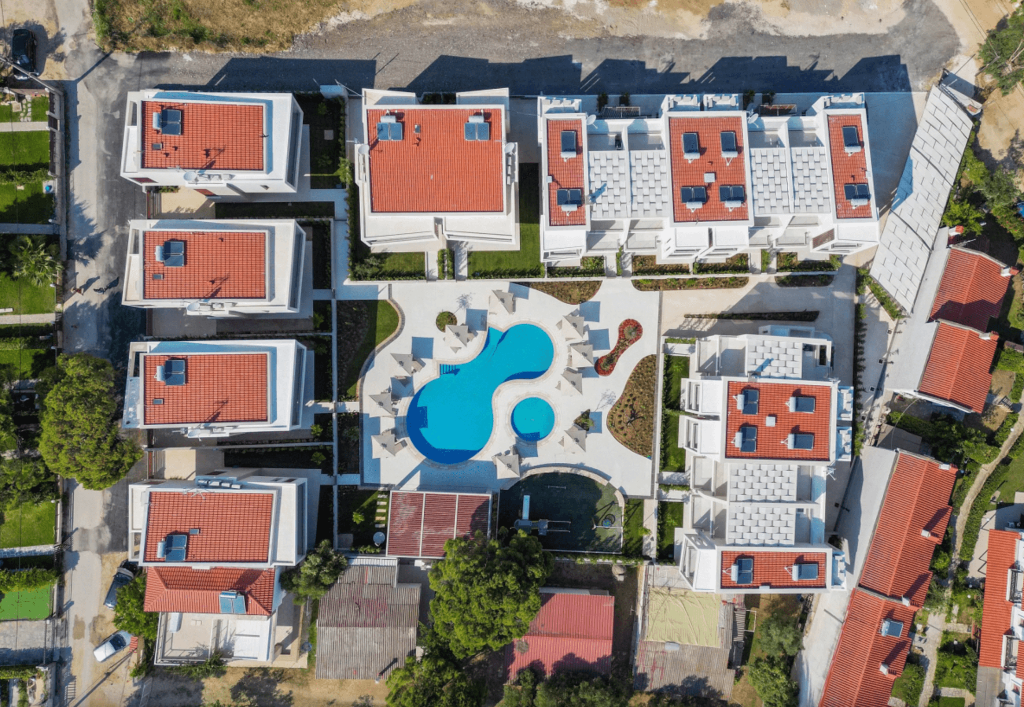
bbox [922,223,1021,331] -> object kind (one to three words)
house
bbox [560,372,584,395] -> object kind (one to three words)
umbrella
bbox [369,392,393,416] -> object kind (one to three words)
umbrella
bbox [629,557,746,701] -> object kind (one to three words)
shed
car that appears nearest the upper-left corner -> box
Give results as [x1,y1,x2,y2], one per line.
[12,28,40,82]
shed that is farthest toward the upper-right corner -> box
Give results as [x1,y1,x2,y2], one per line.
[937,85,982,119]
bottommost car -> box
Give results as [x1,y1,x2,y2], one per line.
[88,630,136,669]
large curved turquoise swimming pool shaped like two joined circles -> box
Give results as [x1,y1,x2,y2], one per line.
[400,316,561,471]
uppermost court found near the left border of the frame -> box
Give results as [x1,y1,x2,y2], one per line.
[0,584,50,620]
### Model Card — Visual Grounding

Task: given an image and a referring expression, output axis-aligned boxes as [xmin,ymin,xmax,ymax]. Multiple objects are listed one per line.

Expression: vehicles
[101,557,143,613]
[12,28,40,82]
[88,630,136,669]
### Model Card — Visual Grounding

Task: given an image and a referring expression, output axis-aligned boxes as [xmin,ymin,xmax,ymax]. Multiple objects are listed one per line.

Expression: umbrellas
[370,433,397,459]
[444,321,470,346]
[563,428,587,453]
[570,344,595,369]
[389,352,414,377]
[560,372,584,395]
[495,453,521,479]
[488,285,516,314]
[369,392,393,416]
[562,314,587,339]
